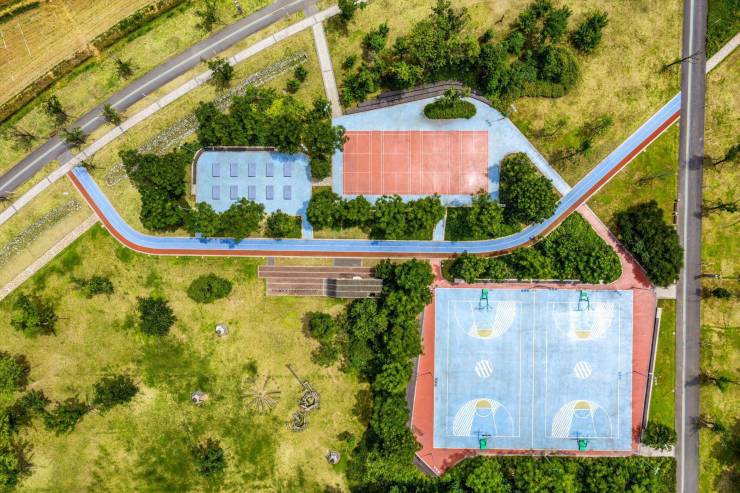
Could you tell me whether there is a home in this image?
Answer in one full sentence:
No, there appears to be no home in this shot.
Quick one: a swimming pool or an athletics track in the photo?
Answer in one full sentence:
Of the two, only an athletics track appears.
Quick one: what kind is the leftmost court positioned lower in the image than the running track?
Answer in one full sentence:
The leftmost court positioned lower in the image than the running track can be classified as a basketball court.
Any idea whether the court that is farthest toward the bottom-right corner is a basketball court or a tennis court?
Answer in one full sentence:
It turns out the court that is farthest toward the bottom-right corner is a basketball court.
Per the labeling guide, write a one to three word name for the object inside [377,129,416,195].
sports court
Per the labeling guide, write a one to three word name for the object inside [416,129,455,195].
sports court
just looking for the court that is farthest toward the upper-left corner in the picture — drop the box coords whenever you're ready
[343,130,377,195]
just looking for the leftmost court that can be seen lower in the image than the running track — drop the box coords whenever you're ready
[434,288,534,450]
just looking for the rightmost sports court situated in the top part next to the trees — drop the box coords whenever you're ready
[455,131,489,195]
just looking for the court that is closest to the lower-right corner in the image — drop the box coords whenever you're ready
[533,289,632,450]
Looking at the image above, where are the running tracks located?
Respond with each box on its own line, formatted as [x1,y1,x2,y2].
[66,93,682,259]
